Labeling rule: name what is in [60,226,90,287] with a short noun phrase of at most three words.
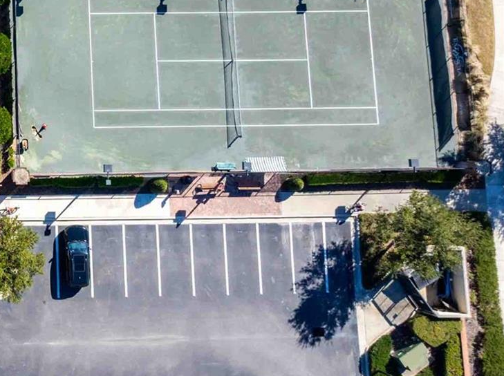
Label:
car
